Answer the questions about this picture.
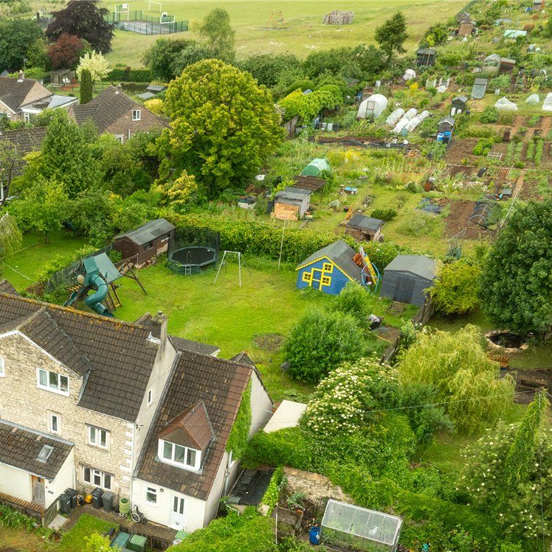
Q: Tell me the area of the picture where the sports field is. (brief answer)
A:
top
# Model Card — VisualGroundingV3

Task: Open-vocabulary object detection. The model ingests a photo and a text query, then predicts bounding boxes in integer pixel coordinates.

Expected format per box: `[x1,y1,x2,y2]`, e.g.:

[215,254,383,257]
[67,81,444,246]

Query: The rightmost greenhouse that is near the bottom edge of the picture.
[324,497,408,552]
